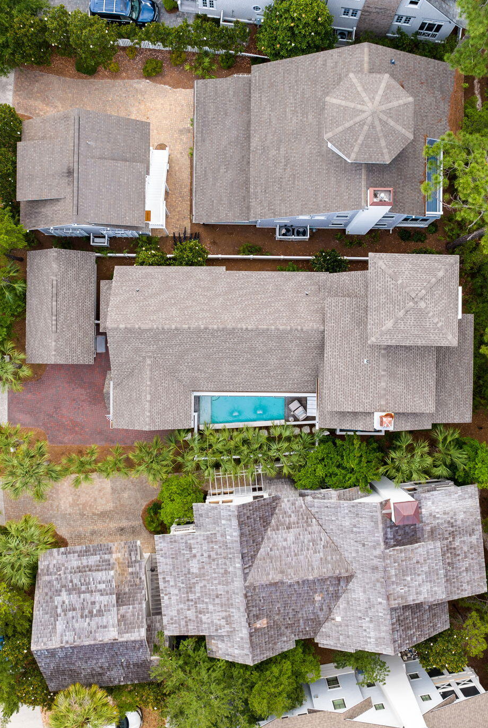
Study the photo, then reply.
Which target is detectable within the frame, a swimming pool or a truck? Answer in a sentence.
This aerial view contains a swimming pool.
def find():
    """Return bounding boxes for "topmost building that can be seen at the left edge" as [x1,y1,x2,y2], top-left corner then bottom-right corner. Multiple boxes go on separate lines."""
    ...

[16,108,174,238]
